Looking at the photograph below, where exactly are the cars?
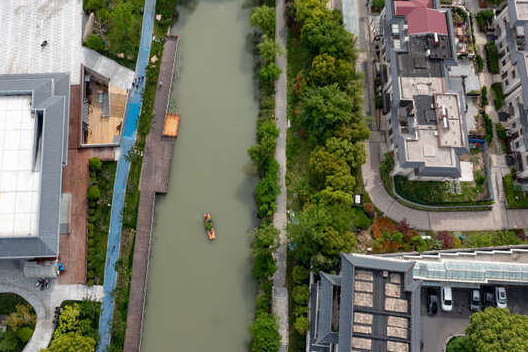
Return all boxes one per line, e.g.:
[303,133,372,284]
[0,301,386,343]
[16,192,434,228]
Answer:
[483,284,498,312]
[471,286,485,312]
[496,283,511,310]
[427,289,441,317]
[441,284,456,311]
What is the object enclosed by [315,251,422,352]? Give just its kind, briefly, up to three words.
building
